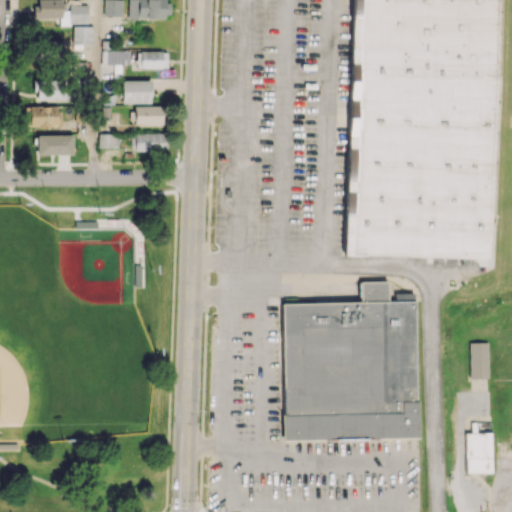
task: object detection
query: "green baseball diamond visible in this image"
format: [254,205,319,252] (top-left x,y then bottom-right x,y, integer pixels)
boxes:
[0,206,154,442]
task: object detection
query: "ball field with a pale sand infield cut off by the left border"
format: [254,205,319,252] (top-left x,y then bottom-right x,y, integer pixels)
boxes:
[0,345,148,444]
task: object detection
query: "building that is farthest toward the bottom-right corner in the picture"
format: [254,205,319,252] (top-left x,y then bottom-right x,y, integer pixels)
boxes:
[466,422,495,476]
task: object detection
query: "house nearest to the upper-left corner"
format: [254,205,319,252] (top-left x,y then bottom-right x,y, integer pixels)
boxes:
[35,0,72,28]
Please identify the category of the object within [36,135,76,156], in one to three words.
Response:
house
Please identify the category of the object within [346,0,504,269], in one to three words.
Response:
warehouse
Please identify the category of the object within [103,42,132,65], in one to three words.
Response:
building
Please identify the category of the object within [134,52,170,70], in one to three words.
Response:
house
